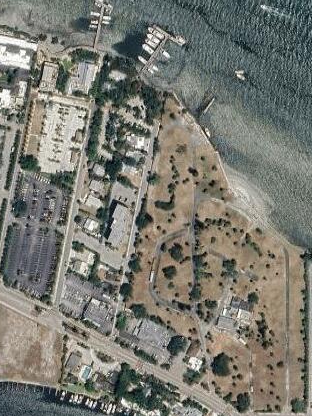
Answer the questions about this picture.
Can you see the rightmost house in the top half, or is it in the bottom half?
bottom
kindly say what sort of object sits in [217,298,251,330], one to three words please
house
